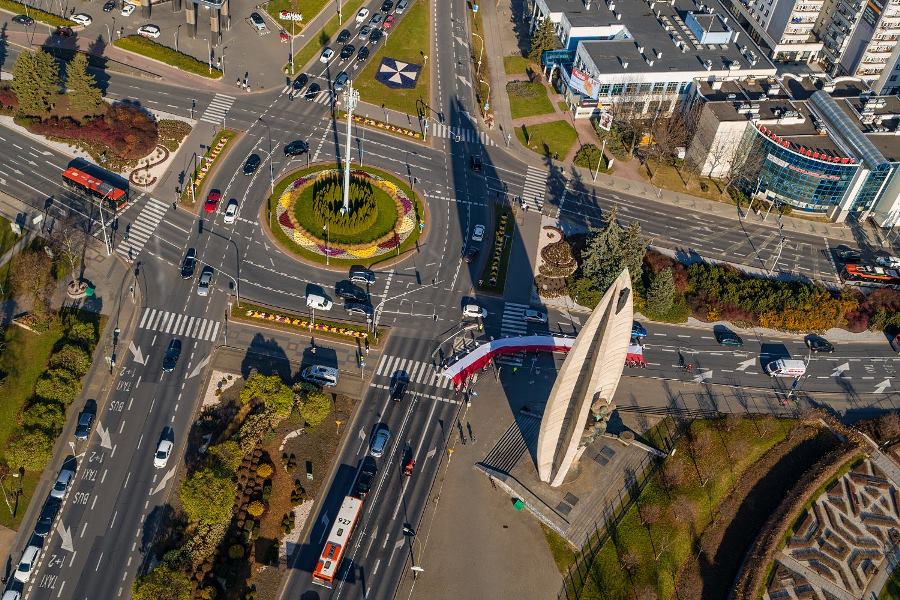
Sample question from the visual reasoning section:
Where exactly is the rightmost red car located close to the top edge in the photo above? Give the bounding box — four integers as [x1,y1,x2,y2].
[381,16,396,30]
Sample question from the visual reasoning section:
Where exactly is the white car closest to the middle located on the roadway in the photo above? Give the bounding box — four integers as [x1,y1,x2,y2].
[460,303,488,320]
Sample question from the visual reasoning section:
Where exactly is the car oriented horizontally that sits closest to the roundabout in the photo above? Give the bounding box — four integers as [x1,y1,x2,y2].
[345,266,378,285]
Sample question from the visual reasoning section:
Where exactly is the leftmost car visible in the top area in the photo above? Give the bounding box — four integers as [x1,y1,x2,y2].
[10,14,36,28]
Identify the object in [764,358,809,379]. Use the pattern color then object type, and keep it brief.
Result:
white vehicle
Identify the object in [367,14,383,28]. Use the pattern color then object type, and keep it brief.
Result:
gray car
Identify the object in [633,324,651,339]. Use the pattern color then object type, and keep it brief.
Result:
blue car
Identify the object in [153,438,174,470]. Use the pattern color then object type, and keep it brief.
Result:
white car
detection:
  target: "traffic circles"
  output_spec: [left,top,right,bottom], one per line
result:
[258,161,432,271]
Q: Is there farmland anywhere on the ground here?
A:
No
